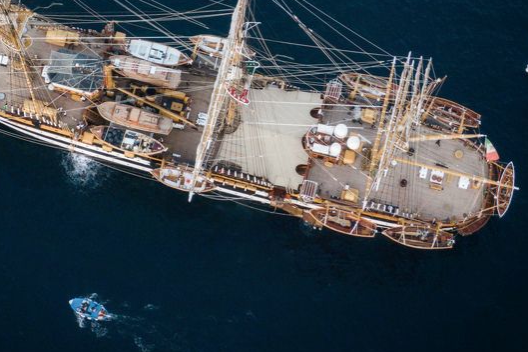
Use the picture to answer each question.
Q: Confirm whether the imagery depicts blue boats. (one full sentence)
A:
Yes, a blue boat appears in the view.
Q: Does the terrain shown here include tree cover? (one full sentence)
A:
No, there's no tree cover in this view.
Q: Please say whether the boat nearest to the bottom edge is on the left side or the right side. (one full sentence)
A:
The boat nearest to the bottom edge is on the left side of the image.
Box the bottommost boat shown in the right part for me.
[384,226,456,251]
